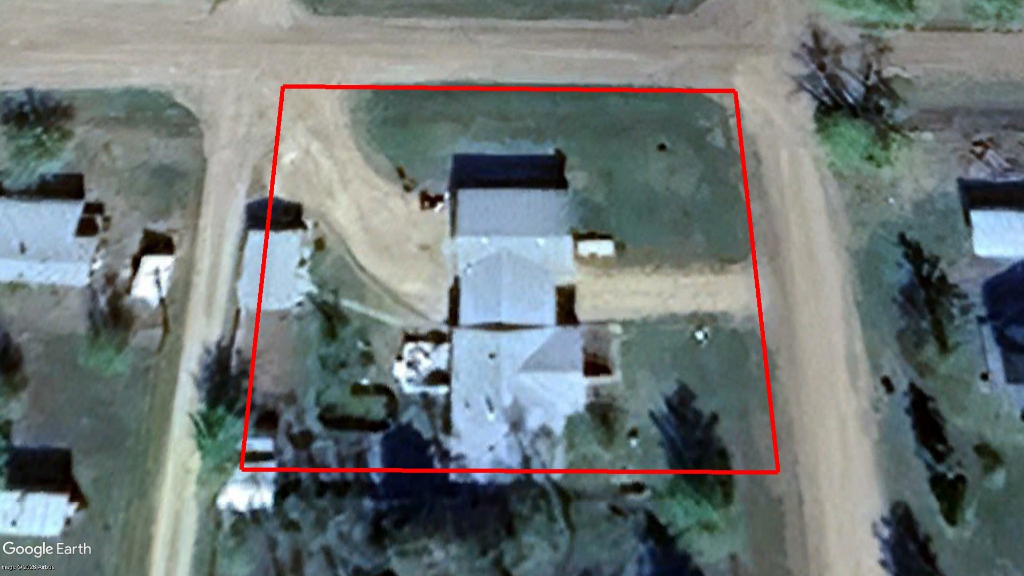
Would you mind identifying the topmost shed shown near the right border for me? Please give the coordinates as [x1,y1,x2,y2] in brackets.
[969,205,1024,257]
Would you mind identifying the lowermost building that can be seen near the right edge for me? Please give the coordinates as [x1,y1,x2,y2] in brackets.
[988,313,1024,386]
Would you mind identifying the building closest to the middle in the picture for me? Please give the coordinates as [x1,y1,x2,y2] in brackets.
[457,183,575,328]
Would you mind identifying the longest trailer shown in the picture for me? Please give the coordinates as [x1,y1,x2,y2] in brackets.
[577,236,623,256]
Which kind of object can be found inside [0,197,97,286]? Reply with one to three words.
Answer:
house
